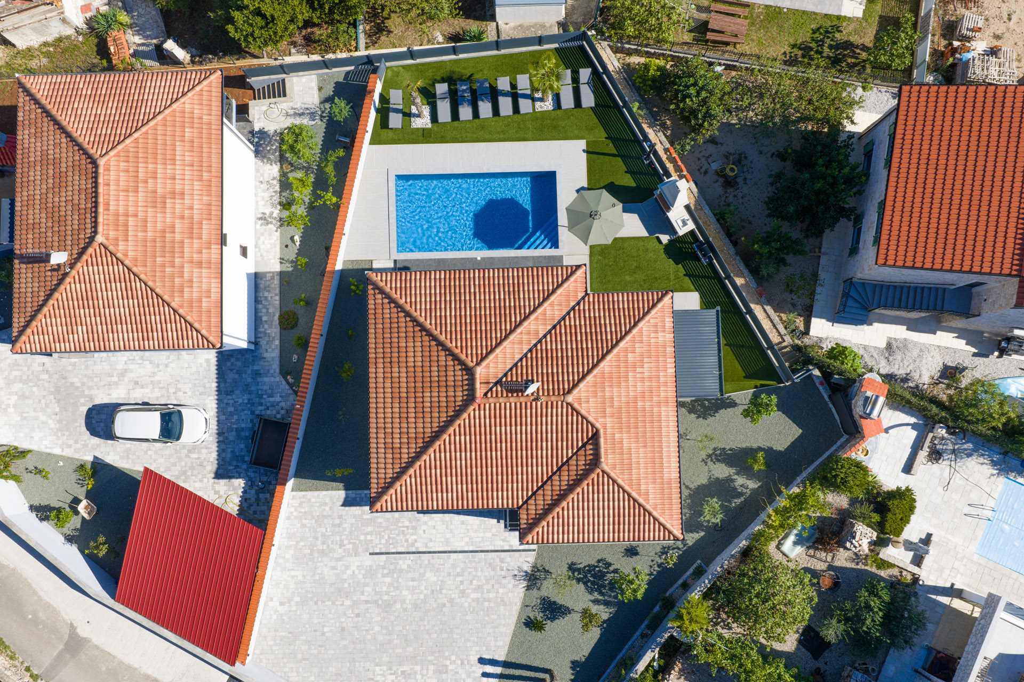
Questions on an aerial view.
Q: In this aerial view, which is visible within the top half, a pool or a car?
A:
pool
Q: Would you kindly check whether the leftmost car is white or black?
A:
white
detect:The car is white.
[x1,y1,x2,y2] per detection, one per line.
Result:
[109,402,209,448]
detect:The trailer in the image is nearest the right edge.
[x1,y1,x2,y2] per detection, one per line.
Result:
[250,418,290,488]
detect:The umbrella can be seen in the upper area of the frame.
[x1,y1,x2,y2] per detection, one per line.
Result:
[566,189,624,246]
